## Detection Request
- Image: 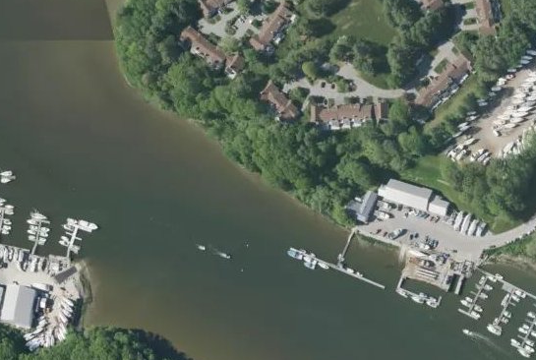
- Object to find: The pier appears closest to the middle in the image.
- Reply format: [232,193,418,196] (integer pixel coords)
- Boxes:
[290,230,386,288]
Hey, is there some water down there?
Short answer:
Yes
